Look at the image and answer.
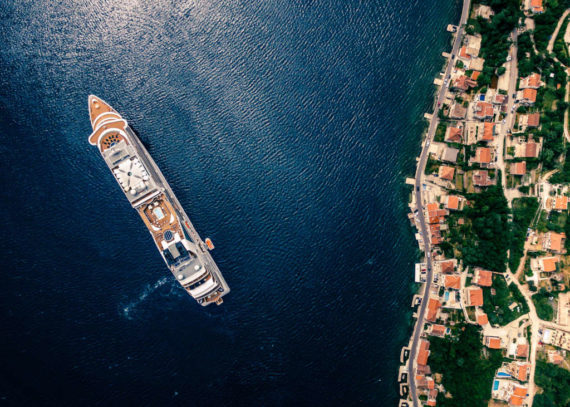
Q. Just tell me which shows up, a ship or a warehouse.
ship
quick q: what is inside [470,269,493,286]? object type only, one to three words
house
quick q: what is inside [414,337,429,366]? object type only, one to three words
house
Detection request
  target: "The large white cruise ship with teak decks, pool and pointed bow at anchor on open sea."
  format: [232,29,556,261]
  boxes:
[87,94,229,308]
